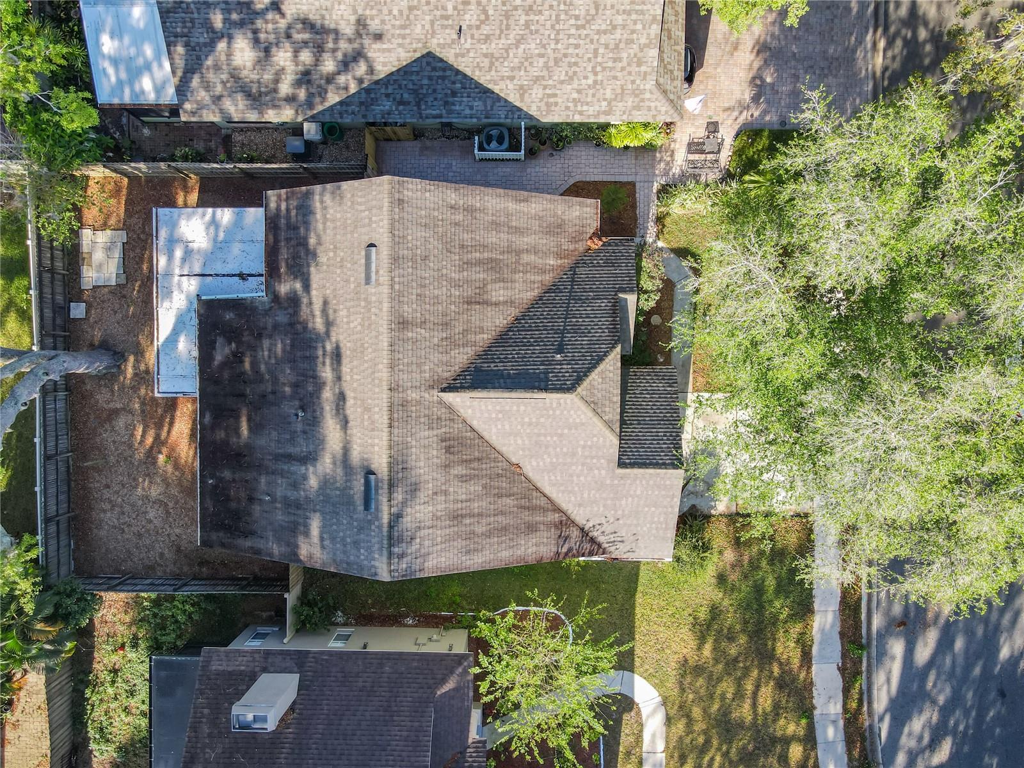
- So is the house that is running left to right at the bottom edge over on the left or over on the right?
left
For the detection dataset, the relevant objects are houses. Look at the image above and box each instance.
[196,178,683,581]
[177,626,487,768]
[160,0,685,128]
